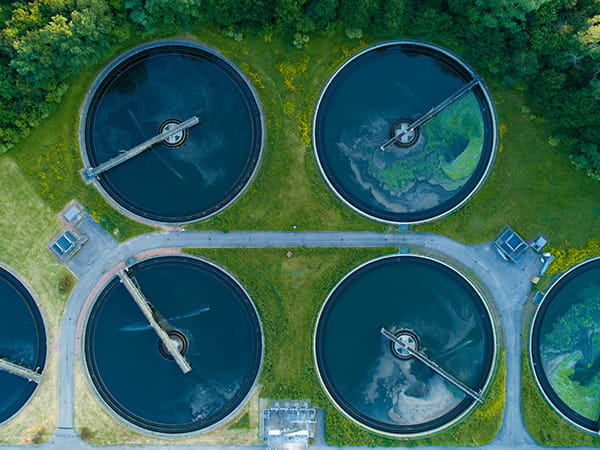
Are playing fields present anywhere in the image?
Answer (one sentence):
No, there appears to be no playing field in this shot.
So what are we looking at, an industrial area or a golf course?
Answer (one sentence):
The area seen from above is an industrial area.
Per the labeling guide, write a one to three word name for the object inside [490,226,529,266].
building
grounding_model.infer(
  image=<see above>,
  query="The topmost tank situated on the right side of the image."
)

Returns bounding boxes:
[312,39,497,224]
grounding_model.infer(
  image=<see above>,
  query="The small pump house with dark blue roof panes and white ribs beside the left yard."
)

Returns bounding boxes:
[46,225,91,265]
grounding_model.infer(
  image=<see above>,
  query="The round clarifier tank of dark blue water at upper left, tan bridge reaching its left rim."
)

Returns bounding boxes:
[80,39,264,223]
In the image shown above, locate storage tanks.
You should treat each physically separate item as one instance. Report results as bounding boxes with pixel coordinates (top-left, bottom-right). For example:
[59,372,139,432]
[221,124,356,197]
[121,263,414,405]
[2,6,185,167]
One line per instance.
[83,255,265,437]
[0,262,48,424]
[312,254,497,438]
[312,39,497,224]
[529,256,600,438]
[80,39,264,223]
